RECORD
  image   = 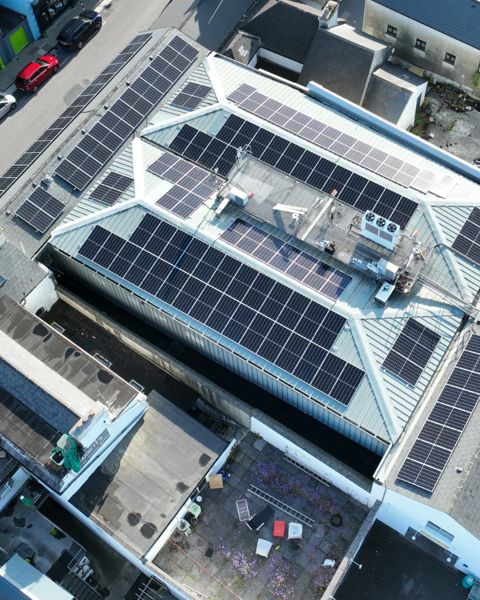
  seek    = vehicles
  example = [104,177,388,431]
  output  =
[52,10,103,55]
[11,56,62,98]
[0,94,16,122]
